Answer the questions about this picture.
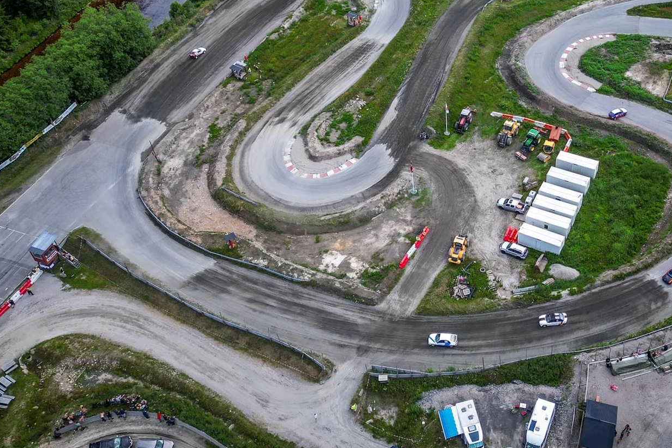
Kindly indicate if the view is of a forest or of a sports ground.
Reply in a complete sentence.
What you see here is a sports ground.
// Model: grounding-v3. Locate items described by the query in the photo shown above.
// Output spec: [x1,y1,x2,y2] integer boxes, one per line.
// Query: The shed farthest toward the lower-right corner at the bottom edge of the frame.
[569,399,617,448]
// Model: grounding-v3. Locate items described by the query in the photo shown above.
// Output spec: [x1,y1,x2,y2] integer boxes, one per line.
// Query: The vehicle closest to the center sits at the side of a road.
[448,230,472,262]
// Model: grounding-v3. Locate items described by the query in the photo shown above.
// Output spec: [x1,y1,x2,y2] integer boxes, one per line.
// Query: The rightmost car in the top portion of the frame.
[606,108,628,121]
